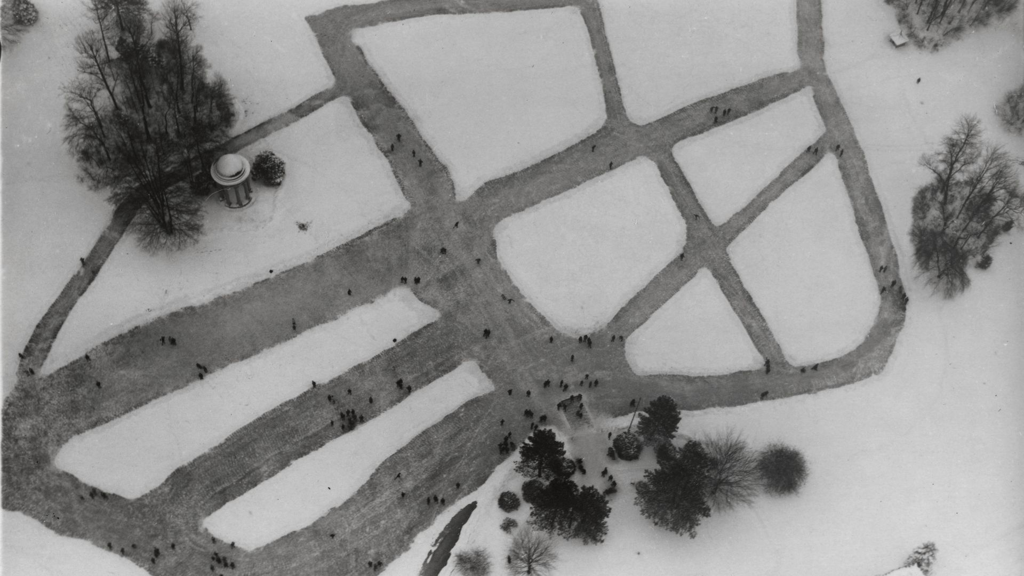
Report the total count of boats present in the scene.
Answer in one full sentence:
I count no boats.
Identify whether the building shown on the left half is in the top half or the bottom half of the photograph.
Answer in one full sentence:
The top half of the photo is where the building shown on the left half is.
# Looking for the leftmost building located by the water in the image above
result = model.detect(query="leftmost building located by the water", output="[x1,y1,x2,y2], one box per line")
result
[208,154,255,210]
